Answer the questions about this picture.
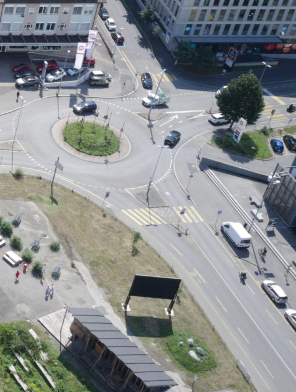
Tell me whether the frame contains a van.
Yes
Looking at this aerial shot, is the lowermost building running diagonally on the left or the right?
left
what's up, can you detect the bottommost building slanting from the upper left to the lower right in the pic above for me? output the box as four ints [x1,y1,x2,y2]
[30,302,172,392]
